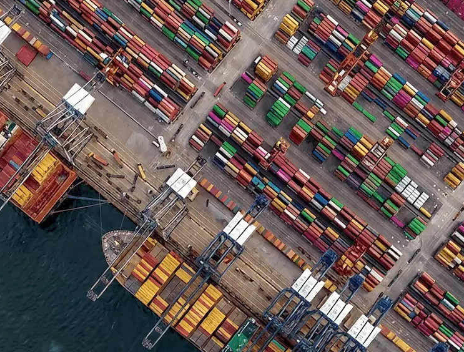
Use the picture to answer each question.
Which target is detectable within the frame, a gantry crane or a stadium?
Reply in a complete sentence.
The image shows a gantry crane.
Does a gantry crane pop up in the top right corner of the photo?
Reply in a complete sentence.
Yes, looking in the top right corner of the photo, one can make out a gantry crane.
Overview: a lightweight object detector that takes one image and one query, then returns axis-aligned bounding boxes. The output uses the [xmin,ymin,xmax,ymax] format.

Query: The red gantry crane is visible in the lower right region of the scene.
[328,235,371,282]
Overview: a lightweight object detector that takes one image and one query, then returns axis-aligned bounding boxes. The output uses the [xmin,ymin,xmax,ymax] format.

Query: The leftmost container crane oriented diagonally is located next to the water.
[0,70,110,218]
